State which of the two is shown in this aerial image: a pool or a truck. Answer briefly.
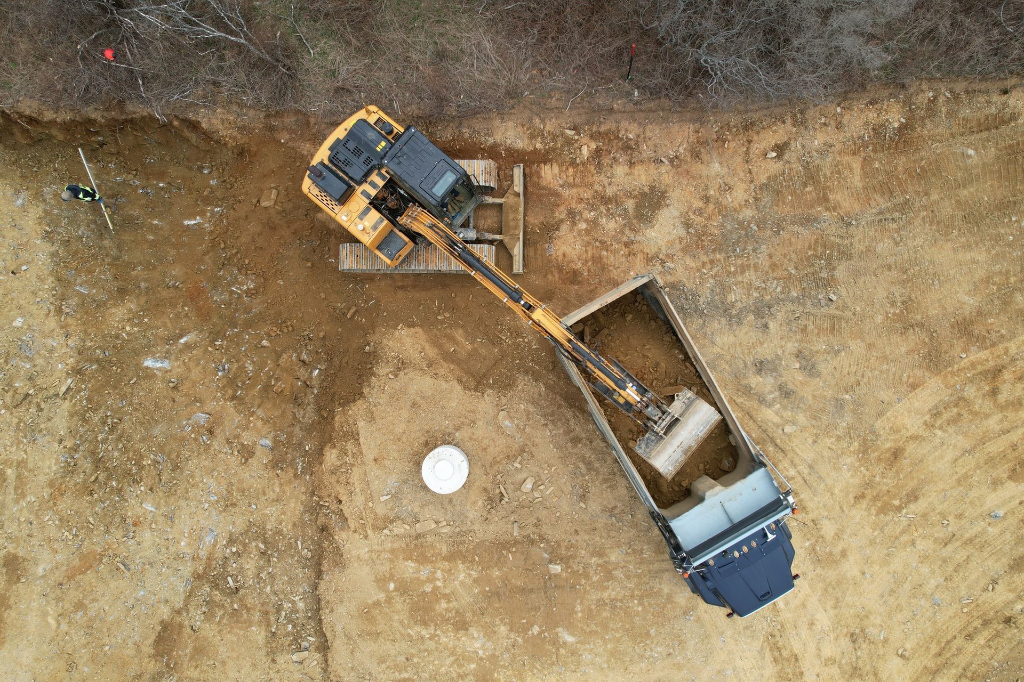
truck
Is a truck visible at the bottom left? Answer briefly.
No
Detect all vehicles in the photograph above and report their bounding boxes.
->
[304,101,721,480]
[554,270,815,617]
